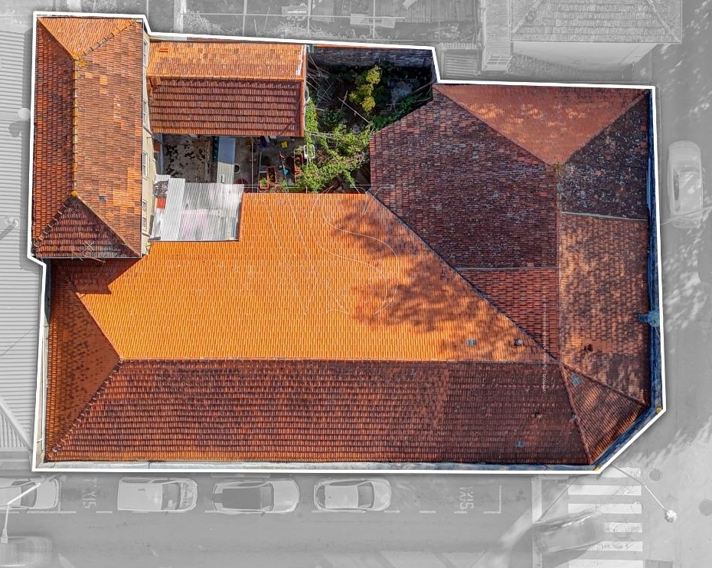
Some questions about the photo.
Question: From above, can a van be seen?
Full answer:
Yes, the image includes a van.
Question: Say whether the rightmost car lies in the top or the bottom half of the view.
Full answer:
The rightmost car is in the top half of the image.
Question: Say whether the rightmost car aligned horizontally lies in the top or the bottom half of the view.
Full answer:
The bottom half of the photo is where the rightmost car aligned horizontally is.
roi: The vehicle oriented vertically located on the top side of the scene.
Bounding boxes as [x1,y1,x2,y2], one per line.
[665,139,707,229]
